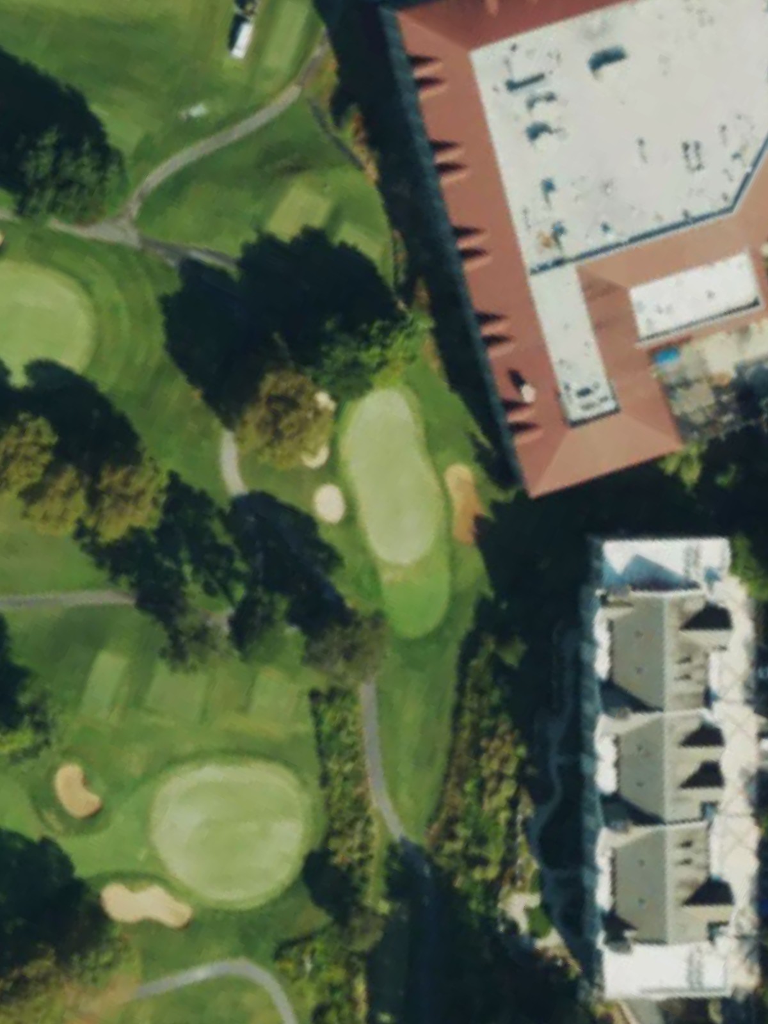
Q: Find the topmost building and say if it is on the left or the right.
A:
right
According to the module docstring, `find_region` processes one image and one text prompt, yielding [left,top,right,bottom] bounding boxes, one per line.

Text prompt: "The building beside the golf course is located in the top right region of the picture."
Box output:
[383,0,768,497]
